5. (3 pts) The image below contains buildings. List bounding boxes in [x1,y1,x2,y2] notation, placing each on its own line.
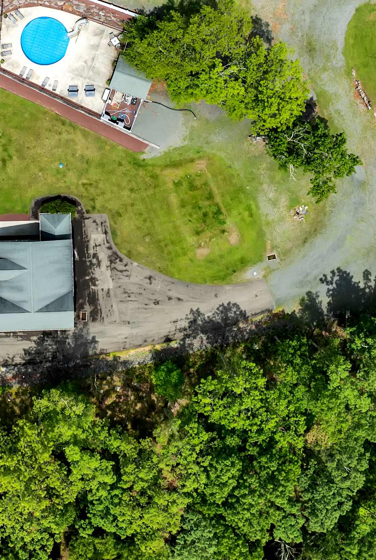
[0,239,75,332]
[109,45,154,100]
